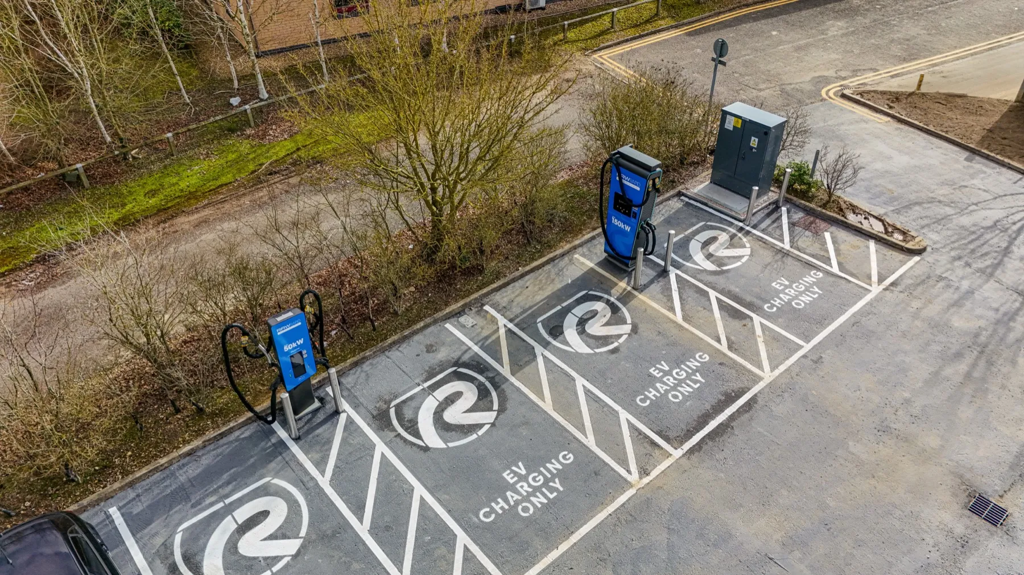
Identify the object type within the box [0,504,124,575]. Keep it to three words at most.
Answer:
car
